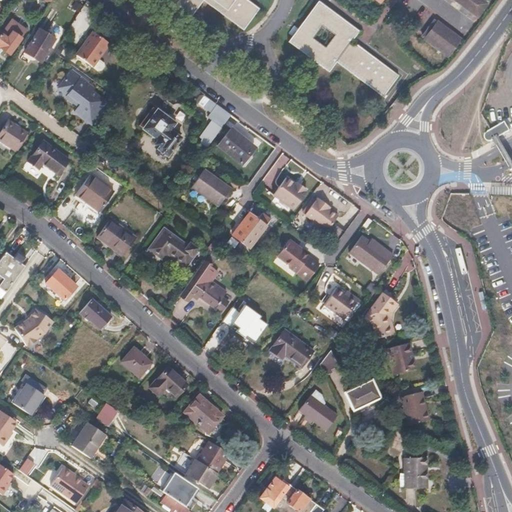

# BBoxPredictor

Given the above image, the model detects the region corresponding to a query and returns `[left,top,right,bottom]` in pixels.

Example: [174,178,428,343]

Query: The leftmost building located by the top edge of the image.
[0,19,28,56]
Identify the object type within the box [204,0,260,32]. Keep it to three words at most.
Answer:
building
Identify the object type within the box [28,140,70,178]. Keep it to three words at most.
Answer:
house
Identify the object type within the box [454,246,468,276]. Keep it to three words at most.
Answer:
vehicle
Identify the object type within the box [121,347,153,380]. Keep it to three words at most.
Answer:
house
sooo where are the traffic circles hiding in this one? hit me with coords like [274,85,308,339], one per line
[366,132,441,206]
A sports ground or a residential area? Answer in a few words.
residential area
